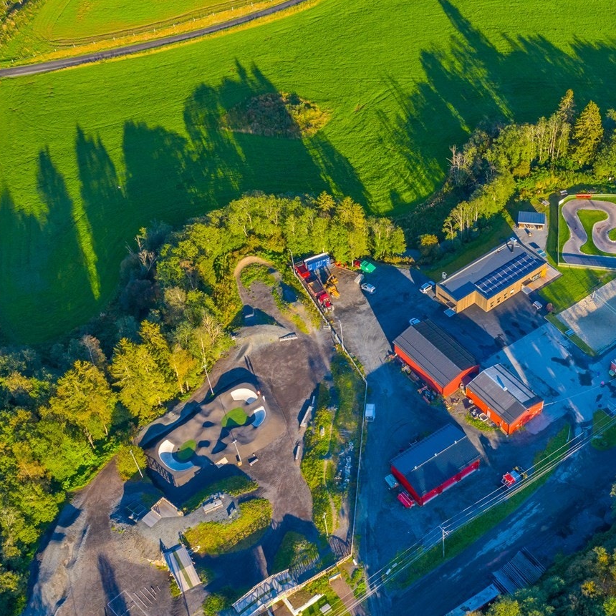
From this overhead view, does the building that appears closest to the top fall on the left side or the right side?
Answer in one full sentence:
You can find the building that appears closest to the top on the right side of the picture.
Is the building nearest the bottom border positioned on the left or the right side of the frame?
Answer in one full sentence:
You can find the building nearest the bottom border on the right side of the picture.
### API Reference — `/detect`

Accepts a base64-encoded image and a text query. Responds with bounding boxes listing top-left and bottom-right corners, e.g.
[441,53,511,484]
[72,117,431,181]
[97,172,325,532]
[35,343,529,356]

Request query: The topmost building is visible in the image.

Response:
[518,211,546,231]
